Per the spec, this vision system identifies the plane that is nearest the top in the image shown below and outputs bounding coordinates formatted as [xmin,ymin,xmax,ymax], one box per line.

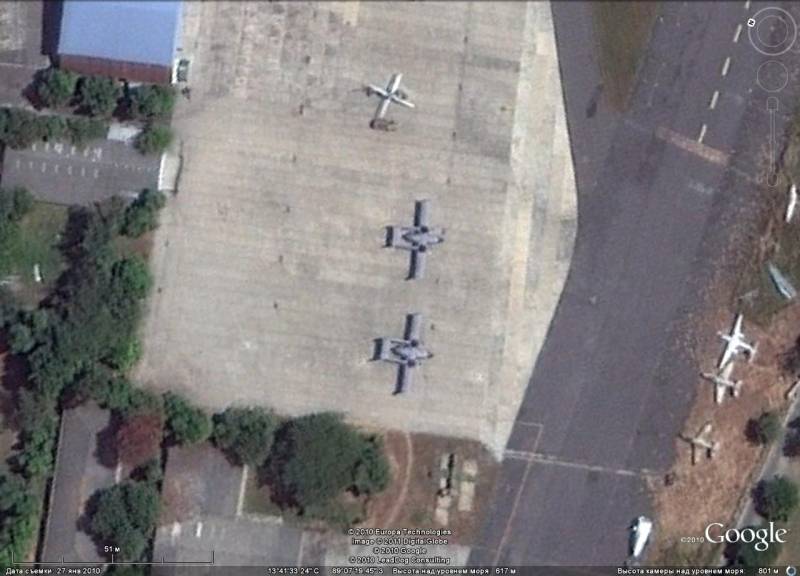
[364,73,415,118]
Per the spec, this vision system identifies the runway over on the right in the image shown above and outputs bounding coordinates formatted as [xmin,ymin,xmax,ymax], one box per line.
[467,0,800,576]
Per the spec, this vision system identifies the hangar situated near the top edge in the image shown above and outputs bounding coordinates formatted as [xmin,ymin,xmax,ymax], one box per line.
[58,0,184,84]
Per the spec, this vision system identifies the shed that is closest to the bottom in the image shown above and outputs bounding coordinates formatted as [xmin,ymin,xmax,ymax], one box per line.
[107,124,139,145]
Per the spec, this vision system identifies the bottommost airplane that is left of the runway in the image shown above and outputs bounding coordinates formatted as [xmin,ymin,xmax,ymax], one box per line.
[380,314,435,393]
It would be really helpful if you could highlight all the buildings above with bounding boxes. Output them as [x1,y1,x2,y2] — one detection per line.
[58,0,184,84]
[107,124,139,145]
